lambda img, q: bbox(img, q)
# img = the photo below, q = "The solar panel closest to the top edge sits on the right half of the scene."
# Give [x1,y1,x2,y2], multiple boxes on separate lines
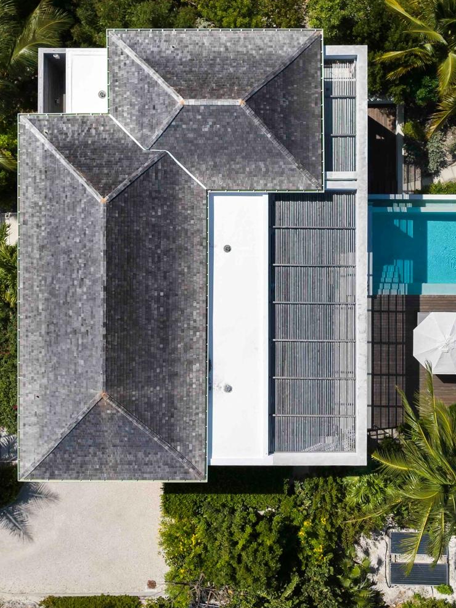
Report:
[390,530,447,554]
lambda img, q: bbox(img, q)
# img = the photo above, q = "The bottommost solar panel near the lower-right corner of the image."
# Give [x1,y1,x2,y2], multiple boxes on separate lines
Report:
[390,560,448,586]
